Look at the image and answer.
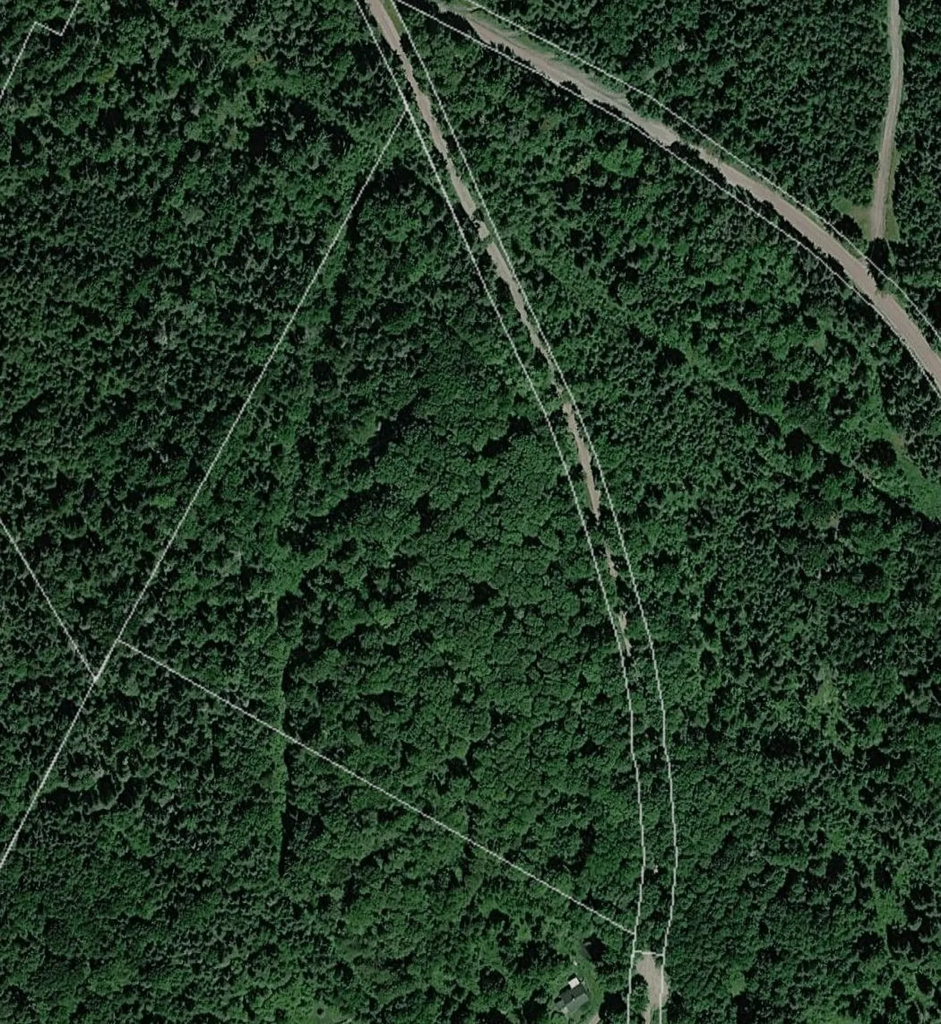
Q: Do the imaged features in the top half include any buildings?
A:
No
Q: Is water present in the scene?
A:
No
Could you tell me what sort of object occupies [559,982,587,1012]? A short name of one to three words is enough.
building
